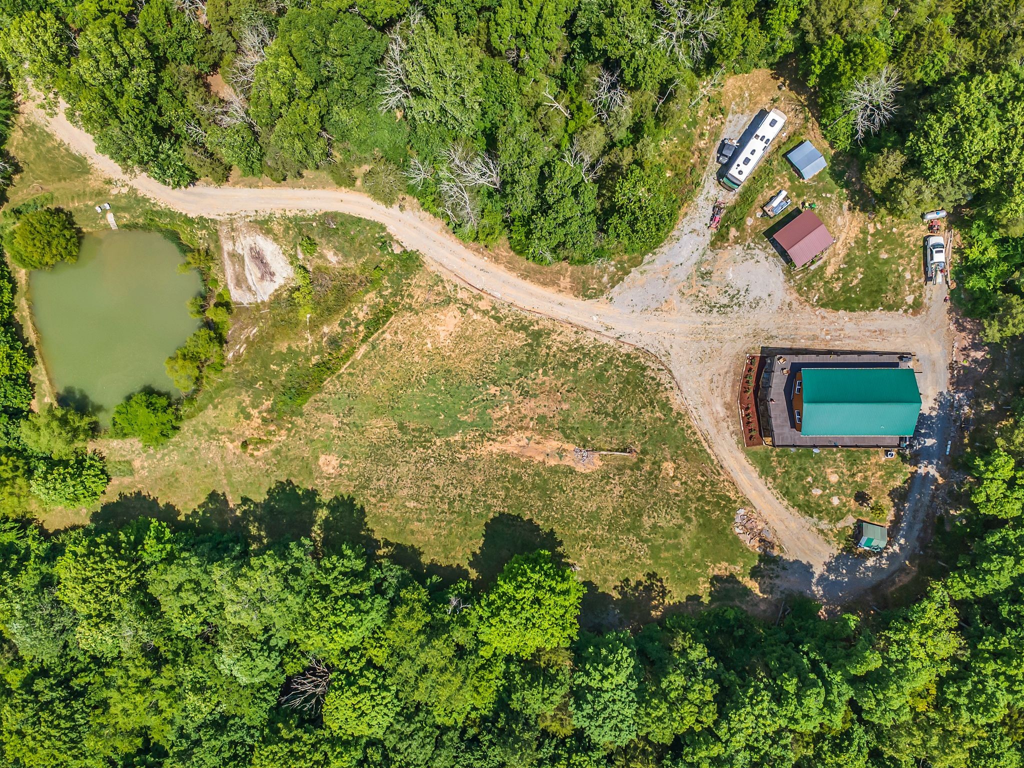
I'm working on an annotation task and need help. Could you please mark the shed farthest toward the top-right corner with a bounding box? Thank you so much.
[784,141,827,182]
